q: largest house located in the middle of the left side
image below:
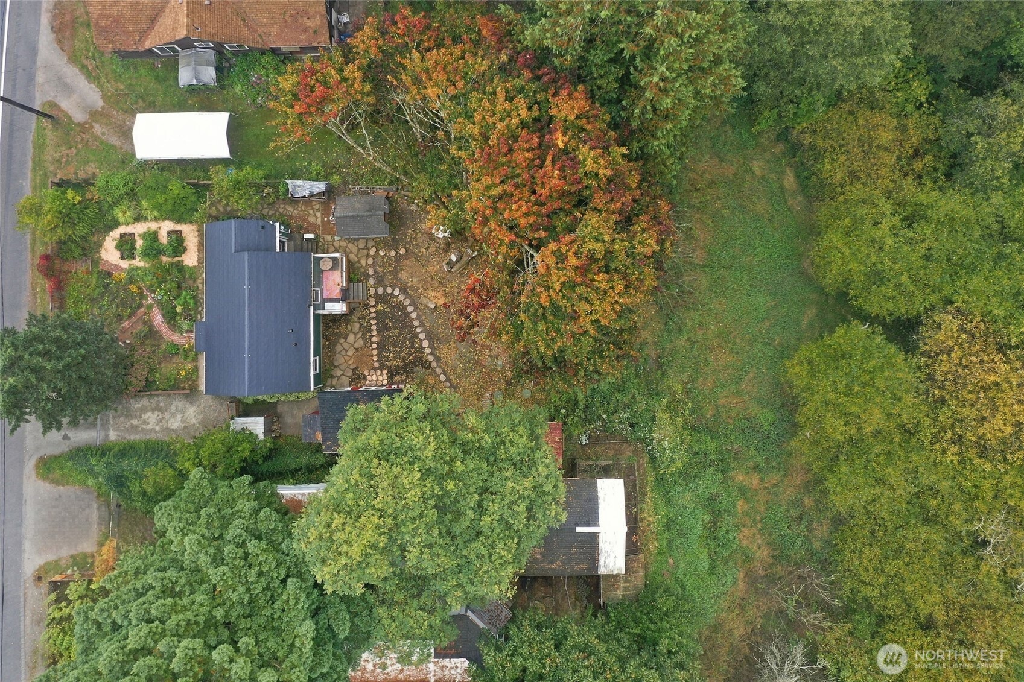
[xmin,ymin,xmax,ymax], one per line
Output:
[194,218,333,397]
